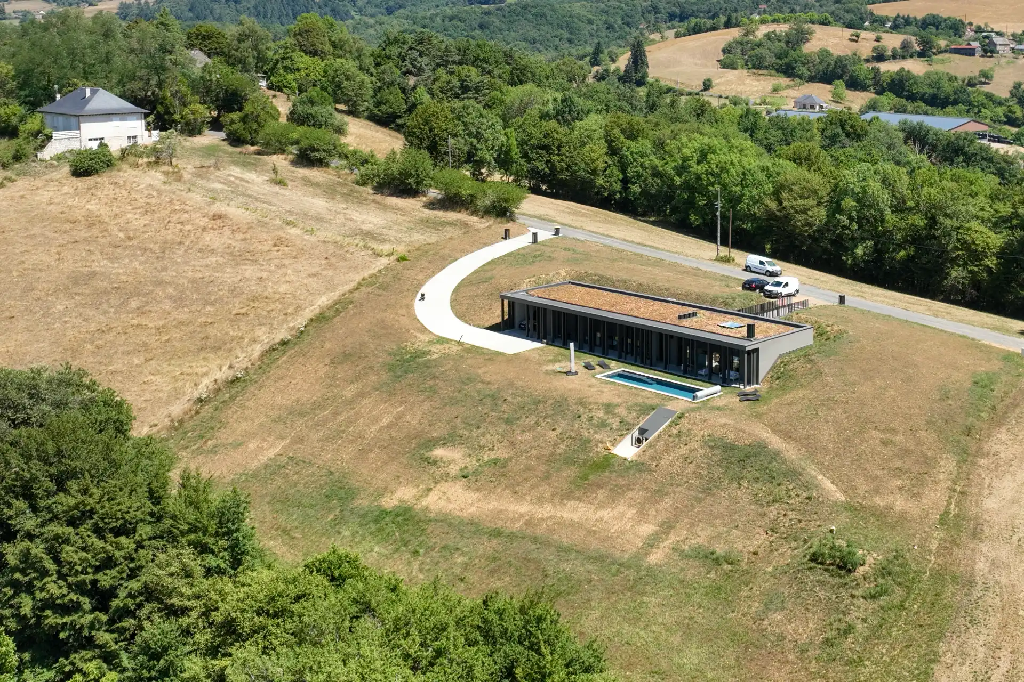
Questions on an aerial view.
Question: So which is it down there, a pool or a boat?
pool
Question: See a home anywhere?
Yes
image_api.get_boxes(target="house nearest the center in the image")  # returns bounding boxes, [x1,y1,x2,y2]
[500,281,813,390]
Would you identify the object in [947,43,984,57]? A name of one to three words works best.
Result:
barn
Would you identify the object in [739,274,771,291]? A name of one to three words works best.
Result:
car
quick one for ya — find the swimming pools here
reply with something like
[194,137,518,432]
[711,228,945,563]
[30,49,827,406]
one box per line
[595,369,723,403]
